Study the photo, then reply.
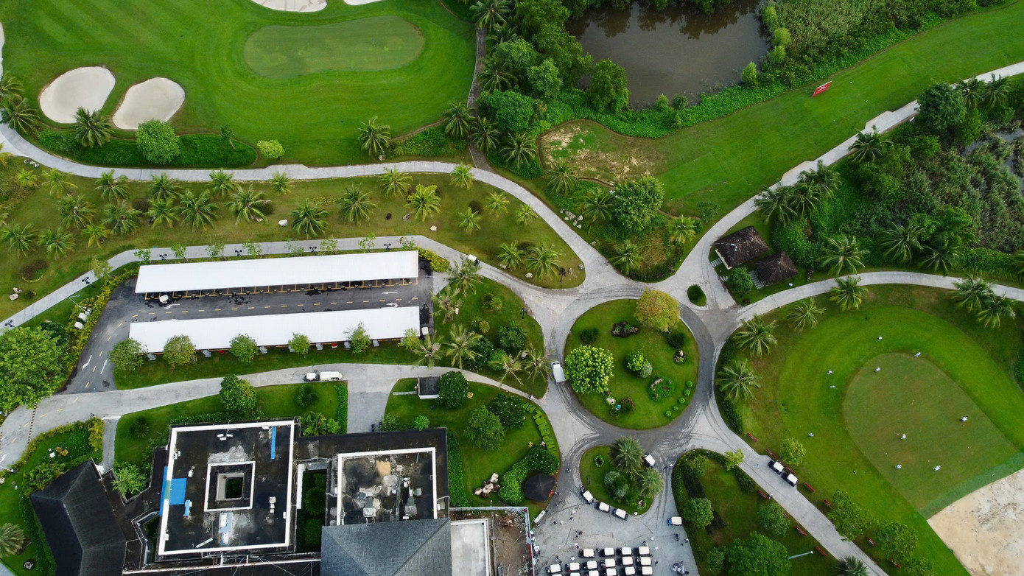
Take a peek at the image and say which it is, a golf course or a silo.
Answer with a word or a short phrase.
golf course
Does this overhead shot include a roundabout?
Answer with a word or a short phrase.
Yes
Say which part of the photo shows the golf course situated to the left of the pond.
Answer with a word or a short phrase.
top left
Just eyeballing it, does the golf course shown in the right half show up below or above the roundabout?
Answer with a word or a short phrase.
above it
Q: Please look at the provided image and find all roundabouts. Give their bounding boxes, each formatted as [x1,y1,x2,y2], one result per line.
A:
[550,288,712,474]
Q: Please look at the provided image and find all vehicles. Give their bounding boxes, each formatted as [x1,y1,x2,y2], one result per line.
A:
[584,570,601,576]
[422,327,430,341]
[637,567,654,575]
[617,557,634,566]
[579,549,596,558]
[467,254,479,268]
[616,547,633,556]
[635,557,652,566]
[579,490,593,505]
[601,568,618,576]
[634,546,651,556]
[304,374,318,384]
[610,508,627,521]
[780,473,798,487]
[599,548,616,557]
[546,564,563,573]
[160,294,173,309]
[666,517,683,526]
[318,370,345,383]
[619,567,636,576]
[565,562,582,571]
[550,360,567,387]
[594,502,611,514]
[582,561,599,570]
[767,461,785,474]
[566,571,582,576]
[641,454,656,468]
[600,559,617,568]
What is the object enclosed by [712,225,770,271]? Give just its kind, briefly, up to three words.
shed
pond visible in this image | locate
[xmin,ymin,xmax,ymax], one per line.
[553,4,770,109]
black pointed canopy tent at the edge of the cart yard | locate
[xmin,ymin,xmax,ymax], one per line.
[524,473,555,501]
